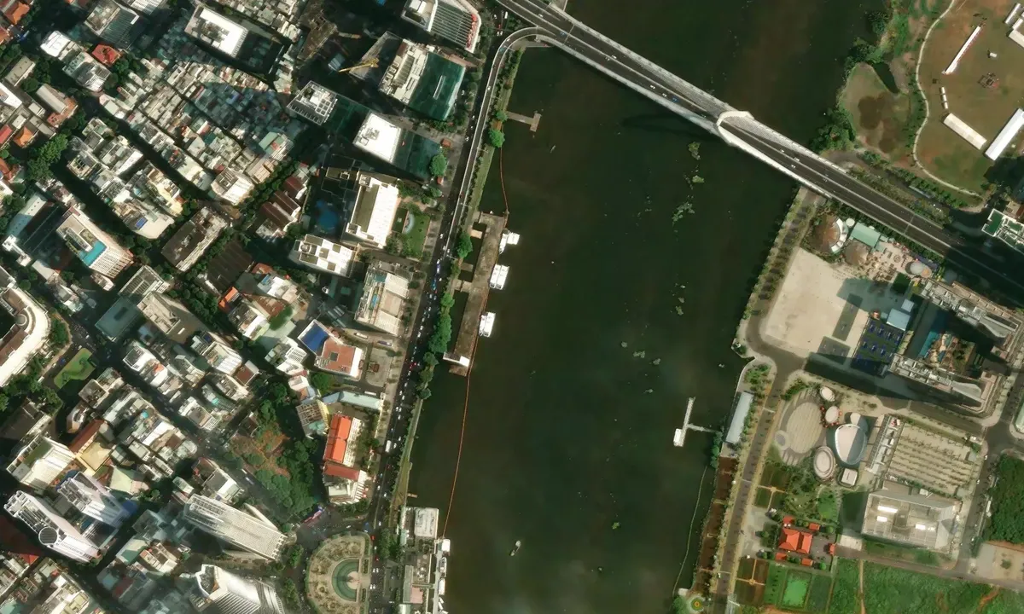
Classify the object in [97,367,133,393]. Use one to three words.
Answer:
house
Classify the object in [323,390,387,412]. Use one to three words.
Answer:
shed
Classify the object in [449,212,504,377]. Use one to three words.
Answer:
pier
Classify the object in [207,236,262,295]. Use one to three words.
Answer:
building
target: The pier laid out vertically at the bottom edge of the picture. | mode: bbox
[415,540,451,614]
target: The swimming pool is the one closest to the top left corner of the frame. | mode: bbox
[80,240,107,266]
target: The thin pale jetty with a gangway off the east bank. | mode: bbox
[673,397,721,446]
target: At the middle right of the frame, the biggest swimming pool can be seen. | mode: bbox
[918,310,949,359]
